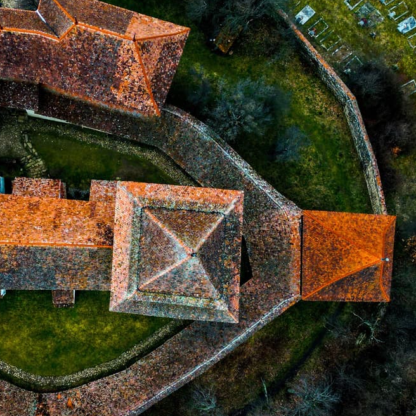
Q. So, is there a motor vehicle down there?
No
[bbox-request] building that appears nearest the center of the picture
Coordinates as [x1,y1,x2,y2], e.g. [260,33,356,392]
[108,179,246,324]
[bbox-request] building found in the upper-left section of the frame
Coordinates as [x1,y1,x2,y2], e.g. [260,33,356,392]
[0,0,191,118]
